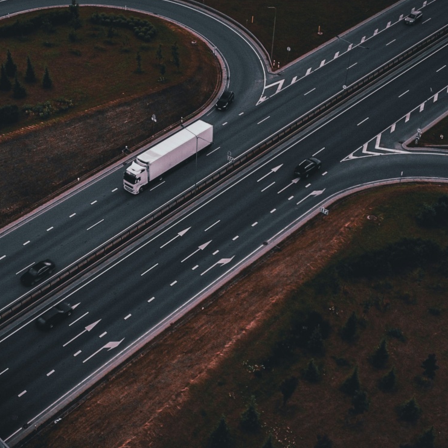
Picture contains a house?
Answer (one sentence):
No, there isn't any house down there.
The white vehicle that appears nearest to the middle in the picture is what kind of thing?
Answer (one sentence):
I'd say the white vehicle that appears nearest to the middle is a truck.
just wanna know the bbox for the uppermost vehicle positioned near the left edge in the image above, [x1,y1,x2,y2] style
[15,255,53,282]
